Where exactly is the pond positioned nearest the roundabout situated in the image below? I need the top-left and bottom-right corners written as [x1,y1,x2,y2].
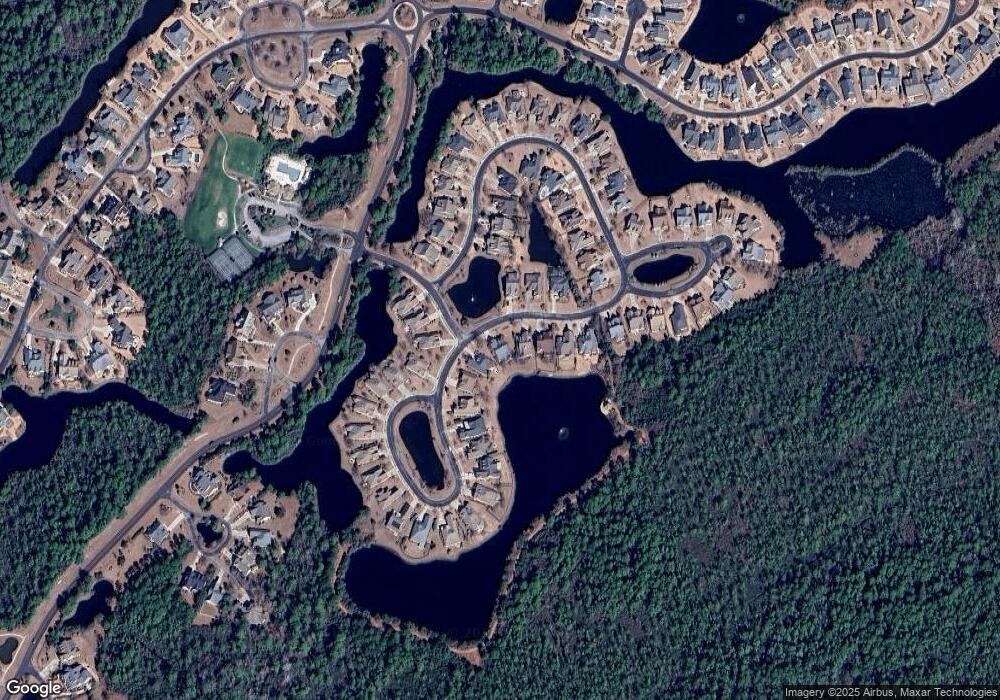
[301,45,387,157]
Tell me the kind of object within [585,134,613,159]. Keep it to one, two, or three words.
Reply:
house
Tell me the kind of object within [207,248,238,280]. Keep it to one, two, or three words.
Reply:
tennis court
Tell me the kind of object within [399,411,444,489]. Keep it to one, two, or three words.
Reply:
pond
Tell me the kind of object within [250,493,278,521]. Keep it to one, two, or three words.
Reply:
house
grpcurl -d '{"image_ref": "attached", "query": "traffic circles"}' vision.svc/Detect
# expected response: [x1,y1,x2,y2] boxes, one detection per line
[382,0,429,46]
